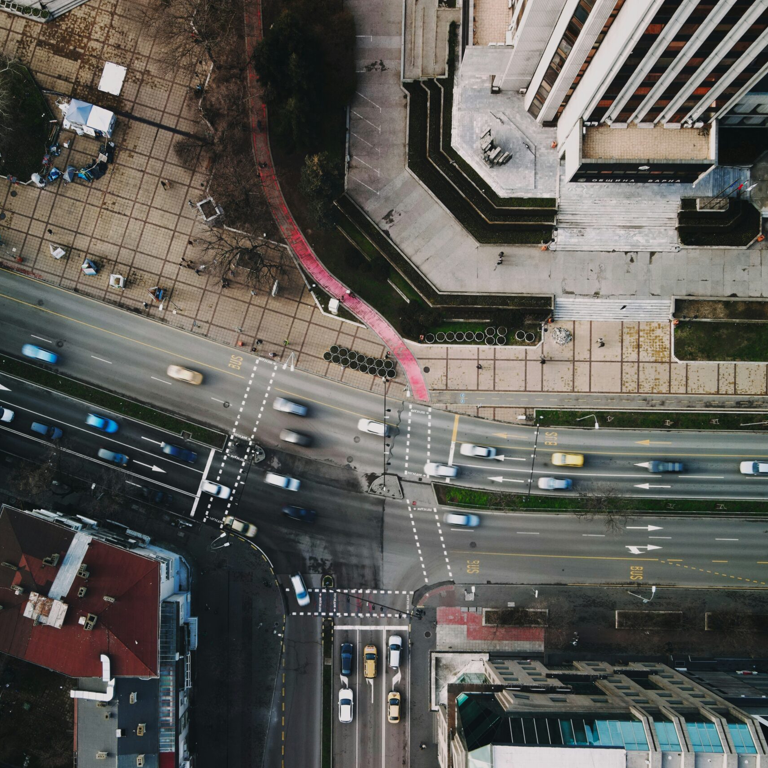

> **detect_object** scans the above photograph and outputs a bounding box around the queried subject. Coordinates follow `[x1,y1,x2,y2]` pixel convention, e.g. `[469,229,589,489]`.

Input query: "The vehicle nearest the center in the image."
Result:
[355,418,392,436]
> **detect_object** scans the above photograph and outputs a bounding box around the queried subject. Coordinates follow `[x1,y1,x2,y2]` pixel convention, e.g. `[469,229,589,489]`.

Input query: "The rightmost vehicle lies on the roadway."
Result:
[739,458,768,475]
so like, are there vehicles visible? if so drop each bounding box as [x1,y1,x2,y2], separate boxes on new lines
[223,516,258,537]
[551,450,584,467]
[445,511,477,528]
[262,471,301,491]
[386,634,403,670]
[461,441,494,458]
[158,439,198,464]
[25,345,57,366]
[355,418,392,436]
[86,412,119,434]
[95,445,133,468]
[386,689,402,725]
[0,407,16,423]
[198,477,232,500]
[425,462,458,477]
[739,458,768,475]
[363,643,378,680]
[288,572,310,605]
[337,687,355,724]
[271,396,310,418]
[537,475,573,492]
[279,428,312,447]
[28,419,65,441]
[139,483,176,504]
[168,365,204,387]
[646,456,685,473]
[338,642,355,678]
